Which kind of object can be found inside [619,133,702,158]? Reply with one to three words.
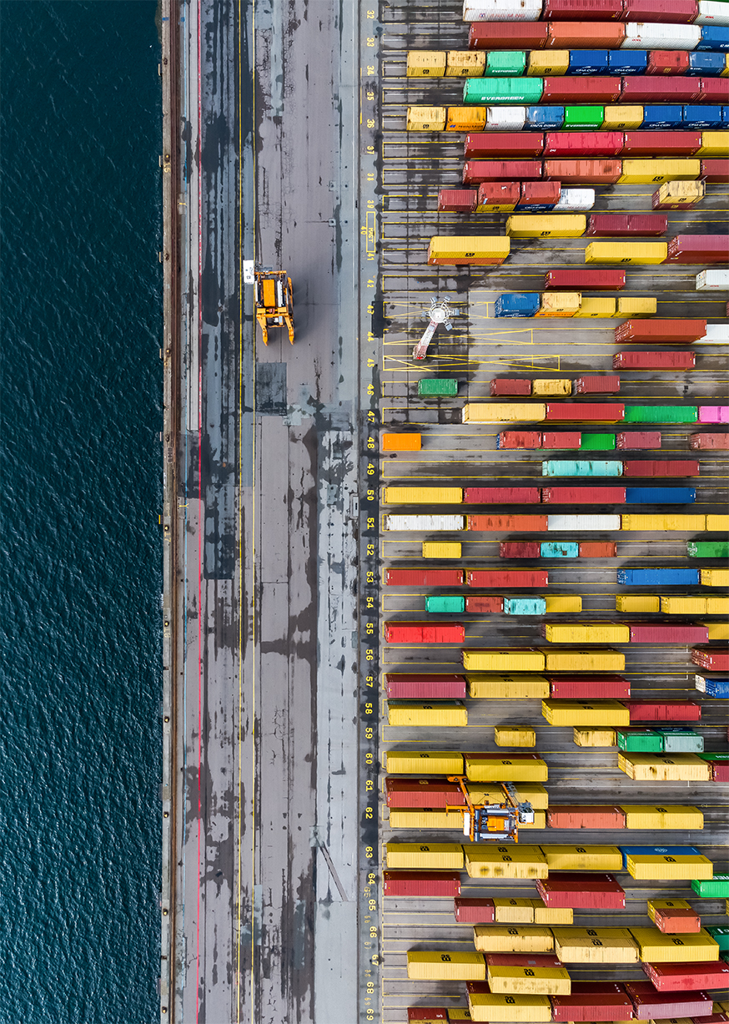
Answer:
shipping container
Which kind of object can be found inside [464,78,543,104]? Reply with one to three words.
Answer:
shipping container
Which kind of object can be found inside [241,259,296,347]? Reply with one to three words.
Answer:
work vehicle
